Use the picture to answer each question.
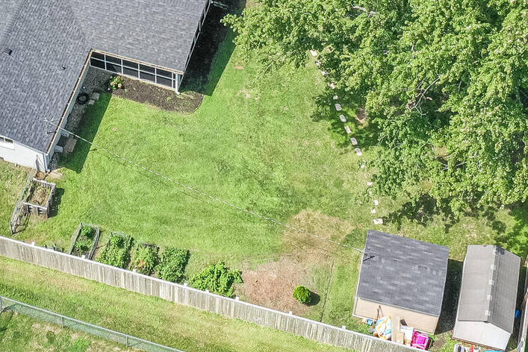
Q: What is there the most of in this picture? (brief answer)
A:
grass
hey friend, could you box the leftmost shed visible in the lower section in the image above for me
[354,233,449,333]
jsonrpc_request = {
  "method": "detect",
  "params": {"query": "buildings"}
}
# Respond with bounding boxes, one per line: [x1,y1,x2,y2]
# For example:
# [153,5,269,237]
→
[452,247,522,347]
[354,233,449,333]
[0,0,228,180]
